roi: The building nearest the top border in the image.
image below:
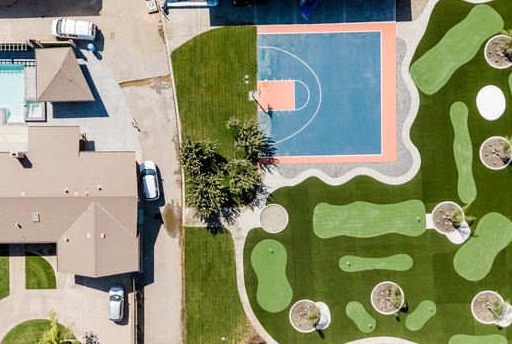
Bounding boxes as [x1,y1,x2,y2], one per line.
[36,46,95,102]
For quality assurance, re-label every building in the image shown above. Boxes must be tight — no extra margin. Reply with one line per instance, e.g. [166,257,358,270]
[36,46,95,102]
[0,126,141,277]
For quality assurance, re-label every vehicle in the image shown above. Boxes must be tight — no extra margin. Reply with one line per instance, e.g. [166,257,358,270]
[108,283,126,320]
[139,160,160,201]
[52,18,100,42]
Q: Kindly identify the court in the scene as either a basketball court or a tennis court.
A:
basketball court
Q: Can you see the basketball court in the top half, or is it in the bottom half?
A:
top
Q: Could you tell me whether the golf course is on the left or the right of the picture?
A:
right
